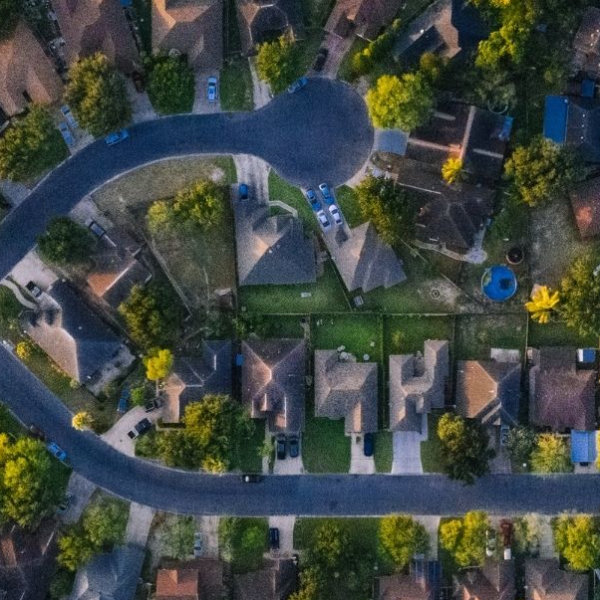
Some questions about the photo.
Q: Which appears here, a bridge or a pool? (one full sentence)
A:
Of the two, only a pool appears.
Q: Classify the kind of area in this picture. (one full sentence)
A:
It's a residential area.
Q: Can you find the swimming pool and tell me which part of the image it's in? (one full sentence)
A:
The swimming pool appears toward the right of the photo.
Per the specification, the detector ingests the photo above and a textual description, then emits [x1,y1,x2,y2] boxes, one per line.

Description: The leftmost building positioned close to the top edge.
[0,24,64,113]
